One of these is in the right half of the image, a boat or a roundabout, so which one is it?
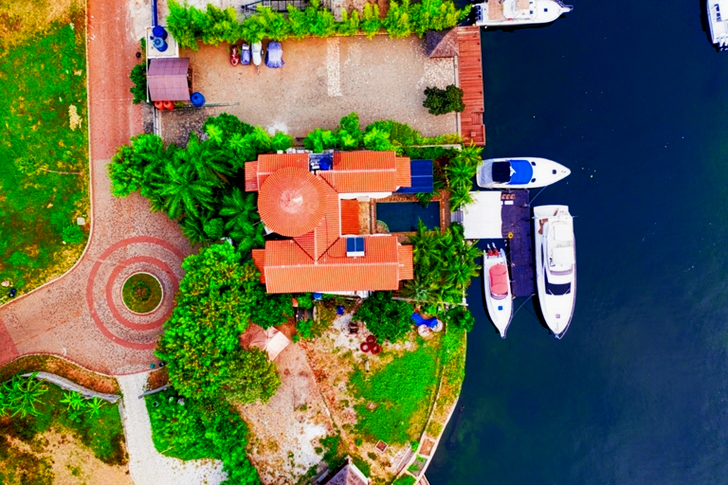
boat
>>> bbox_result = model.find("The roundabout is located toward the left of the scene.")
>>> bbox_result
[87,238,196,348]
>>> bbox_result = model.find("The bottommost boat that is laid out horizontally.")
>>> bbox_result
[473,156,573,188]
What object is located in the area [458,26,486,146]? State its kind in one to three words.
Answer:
pier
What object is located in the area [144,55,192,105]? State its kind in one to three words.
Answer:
shed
